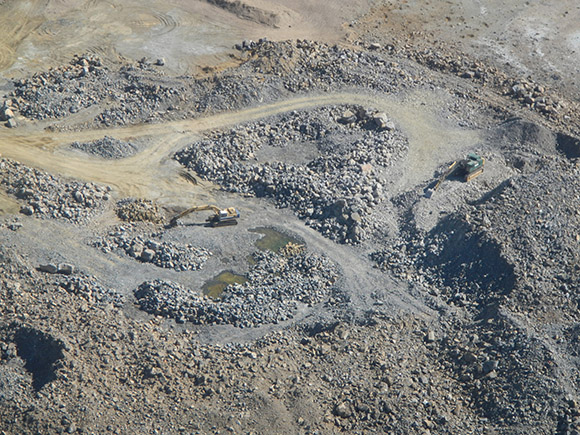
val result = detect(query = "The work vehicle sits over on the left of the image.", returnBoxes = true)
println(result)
[171,204,240,228]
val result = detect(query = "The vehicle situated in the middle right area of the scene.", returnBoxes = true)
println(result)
[427,155,483,194]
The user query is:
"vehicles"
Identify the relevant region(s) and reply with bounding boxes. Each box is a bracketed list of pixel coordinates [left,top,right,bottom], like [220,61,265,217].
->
[171,204,240,228]
[427,155,483,194]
